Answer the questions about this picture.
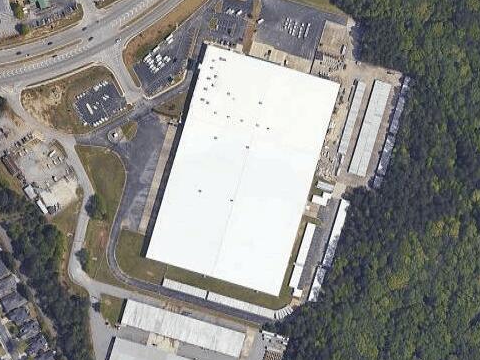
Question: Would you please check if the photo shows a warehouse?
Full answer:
Yes, a warehouse is visible in the scene.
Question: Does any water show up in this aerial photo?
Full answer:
No, water can't be seen anywhere here.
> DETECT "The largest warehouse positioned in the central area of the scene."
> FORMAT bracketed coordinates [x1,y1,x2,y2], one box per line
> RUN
[146,44,340,297]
